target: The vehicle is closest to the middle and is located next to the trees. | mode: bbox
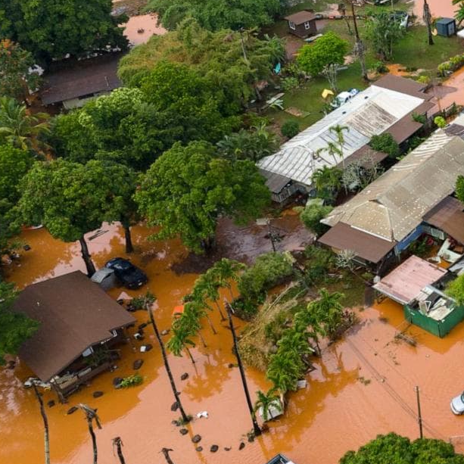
[112,256,149,286]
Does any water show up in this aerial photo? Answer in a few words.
Yes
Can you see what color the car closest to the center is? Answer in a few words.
black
